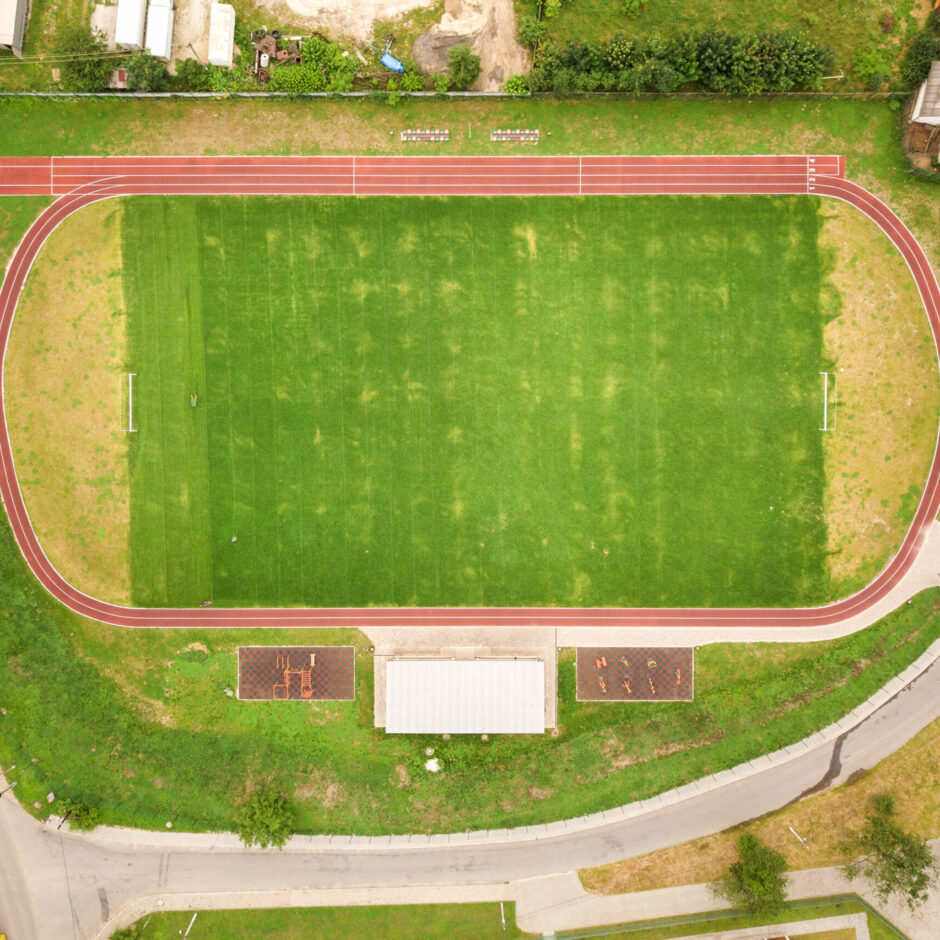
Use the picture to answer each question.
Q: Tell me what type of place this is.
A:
sports ground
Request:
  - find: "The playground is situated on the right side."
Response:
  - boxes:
[576,647,694,700]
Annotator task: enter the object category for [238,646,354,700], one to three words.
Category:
playground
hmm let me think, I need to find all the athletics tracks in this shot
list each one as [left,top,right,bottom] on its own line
[0,155,940,628]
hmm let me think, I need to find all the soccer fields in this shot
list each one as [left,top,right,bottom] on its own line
[121,195,827,608]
